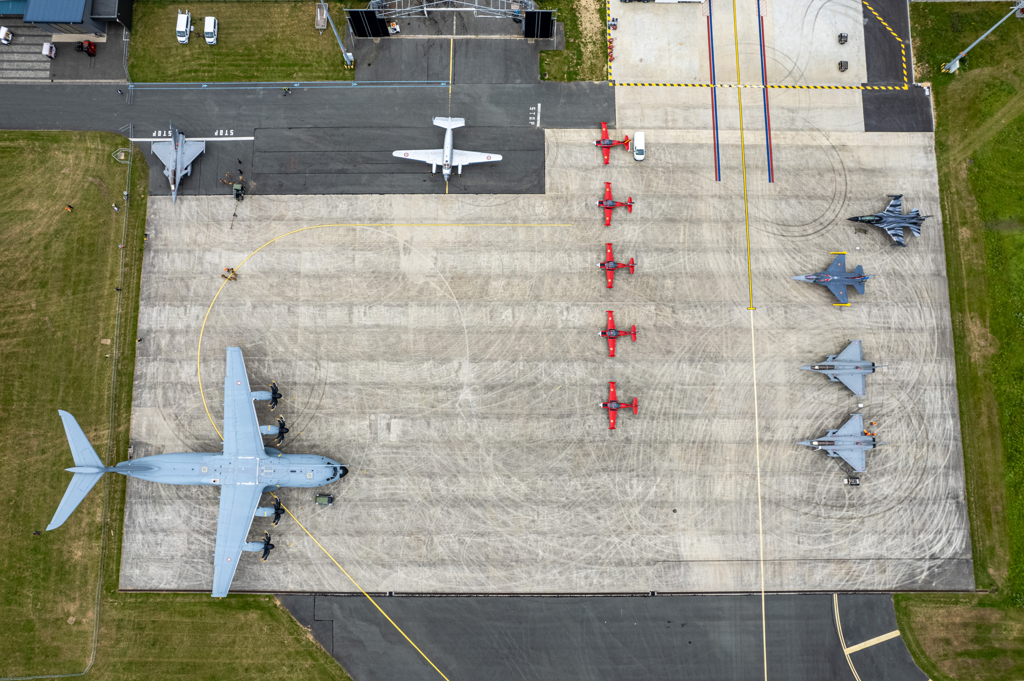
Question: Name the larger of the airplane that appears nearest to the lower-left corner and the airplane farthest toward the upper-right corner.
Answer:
the airplane that appears nearest to the lower-left corner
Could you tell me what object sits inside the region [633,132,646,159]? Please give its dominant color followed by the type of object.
white vehicle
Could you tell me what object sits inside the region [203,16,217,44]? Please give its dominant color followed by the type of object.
white vehicle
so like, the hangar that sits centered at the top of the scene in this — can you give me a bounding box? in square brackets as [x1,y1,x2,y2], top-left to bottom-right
[344,0,560,51]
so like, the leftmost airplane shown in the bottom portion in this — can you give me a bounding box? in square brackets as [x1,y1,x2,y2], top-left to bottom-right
[45,347,348,599]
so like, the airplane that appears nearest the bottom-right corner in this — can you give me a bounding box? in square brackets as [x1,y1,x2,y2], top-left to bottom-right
[796,414,889,472]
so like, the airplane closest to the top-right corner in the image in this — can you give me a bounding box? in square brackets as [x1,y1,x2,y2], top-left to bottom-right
[849,195,935,248]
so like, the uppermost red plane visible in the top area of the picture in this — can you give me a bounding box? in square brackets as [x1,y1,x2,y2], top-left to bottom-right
[593,122,631,165]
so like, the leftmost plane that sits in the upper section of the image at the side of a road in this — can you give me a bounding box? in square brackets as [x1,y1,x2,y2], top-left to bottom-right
[152,119,207,202]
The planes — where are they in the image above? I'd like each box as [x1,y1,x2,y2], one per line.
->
[797,340,887,396]
[849,195,935,248]
[45,347,348,599]
[796,414,889,472]
[598,311,639,357]
[597,243,637,288]
[792,252,874,306]
[393,112,502,182]
[599,382,639,430]
[152,119,207,202]
[595,182,635,226]
[593,122,631,165]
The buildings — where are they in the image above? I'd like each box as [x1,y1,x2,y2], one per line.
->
[344,0,560,51]
[23,0,107,33]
